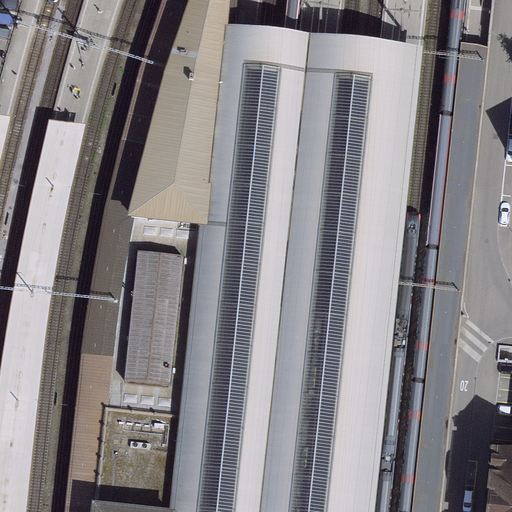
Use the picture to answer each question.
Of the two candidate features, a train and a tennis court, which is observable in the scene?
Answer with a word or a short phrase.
train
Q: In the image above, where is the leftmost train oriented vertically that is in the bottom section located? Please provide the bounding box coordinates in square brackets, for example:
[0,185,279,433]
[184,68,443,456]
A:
[377,210,421,512]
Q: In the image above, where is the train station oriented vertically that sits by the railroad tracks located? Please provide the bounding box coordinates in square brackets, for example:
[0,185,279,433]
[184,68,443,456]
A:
[170,24,424,512]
